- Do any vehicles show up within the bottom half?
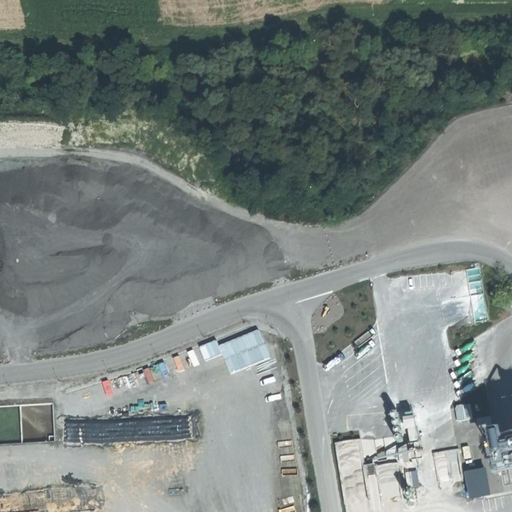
Yes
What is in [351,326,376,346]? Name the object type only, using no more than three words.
vehicle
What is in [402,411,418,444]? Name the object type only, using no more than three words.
building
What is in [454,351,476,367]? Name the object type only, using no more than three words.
vehicle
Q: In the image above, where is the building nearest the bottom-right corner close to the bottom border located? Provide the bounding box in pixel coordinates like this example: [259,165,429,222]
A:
[464,468,490,500]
